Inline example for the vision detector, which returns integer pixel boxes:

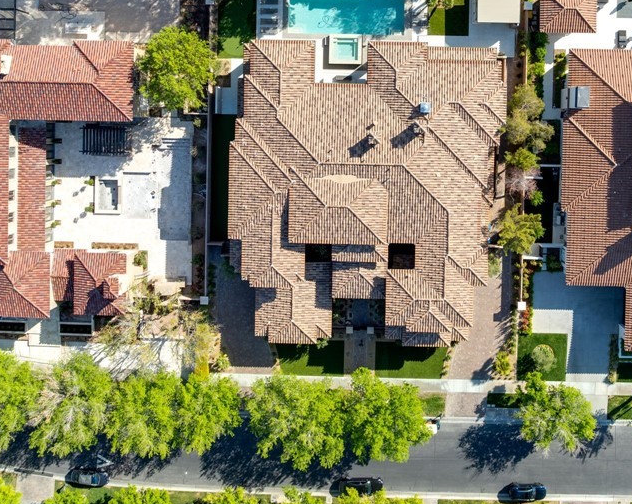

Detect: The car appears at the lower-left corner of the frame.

[67,465,109,488]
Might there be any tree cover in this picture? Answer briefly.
Yes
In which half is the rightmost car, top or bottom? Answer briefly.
bottom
